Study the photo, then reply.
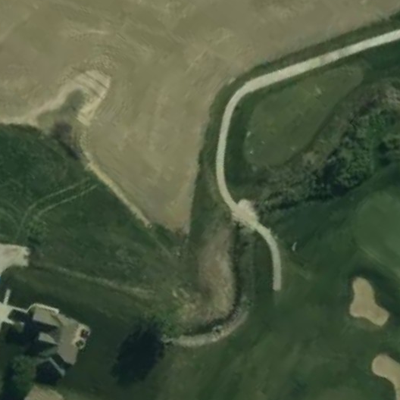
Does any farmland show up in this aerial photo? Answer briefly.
Yes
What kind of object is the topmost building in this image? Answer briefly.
house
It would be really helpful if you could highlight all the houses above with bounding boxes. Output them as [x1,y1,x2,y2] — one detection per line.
[28,308,82,383]
[22,382,62,400]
